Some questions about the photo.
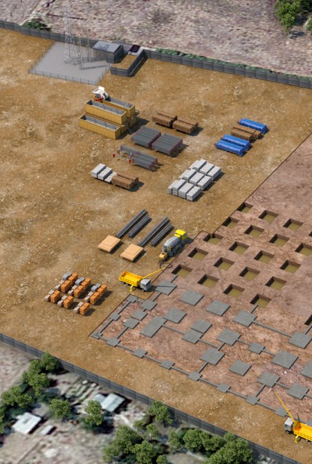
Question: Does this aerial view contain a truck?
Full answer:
Yes, there is a truck in the image.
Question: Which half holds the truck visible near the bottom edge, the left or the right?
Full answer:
The truck visible near the bottom edge appears in the right half of the scene.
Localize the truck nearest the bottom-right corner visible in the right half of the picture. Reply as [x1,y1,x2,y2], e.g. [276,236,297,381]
[275,390,312,441]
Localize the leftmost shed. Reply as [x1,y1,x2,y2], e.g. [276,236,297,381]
[11,411,42,442]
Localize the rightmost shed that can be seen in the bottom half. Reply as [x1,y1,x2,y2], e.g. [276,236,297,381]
[101,393,126,420]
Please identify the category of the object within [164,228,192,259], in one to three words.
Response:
truck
